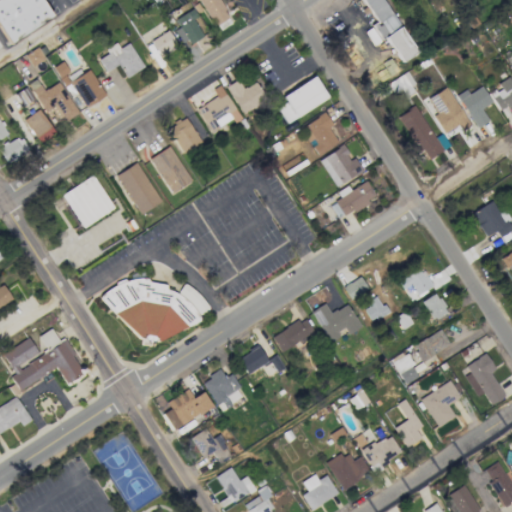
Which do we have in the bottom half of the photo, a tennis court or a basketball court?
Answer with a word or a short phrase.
basketball court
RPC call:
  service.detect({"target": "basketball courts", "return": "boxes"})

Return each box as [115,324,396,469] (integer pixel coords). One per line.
[94,432,163,510]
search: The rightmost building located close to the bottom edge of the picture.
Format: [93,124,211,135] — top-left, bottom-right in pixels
[484,462,512,505]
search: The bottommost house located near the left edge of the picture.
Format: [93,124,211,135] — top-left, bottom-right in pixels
[0,398,30,435]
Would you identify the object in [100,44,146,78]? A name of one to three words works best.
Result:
house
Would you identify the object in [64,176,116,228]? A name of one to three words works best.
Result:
building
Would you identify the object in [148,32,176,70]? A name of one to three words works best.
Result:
house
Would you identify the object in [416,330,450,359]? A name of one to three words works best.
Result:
shed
